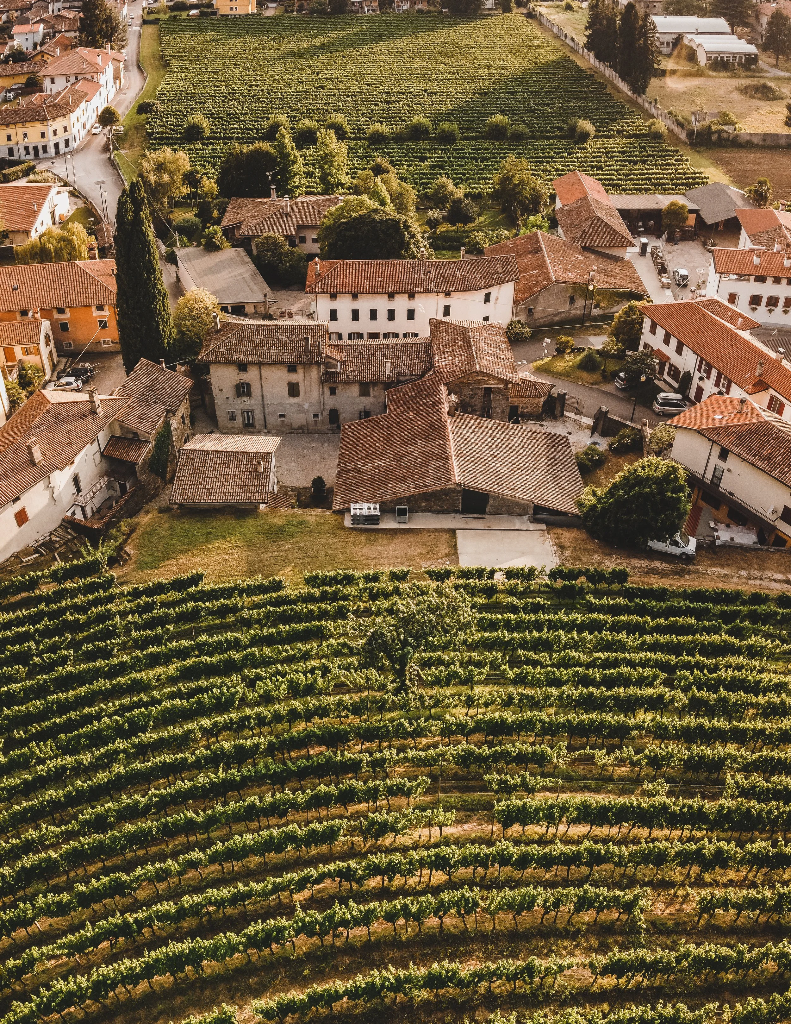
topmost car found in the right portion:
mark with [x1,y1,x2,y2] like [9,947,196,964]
[673,268,691,285]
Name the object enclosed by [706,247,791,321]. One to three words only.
house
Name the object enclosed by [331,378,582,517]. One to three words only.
barn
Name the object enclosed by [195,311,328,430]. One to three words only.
house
